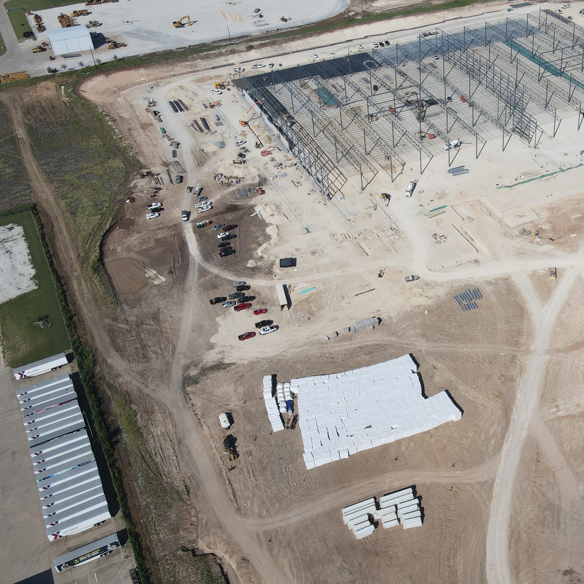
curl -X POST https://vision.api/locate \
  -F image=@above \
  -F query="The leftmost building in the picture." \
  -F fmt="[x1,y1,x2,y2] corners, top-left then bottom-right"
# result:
[48,24,95,55]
